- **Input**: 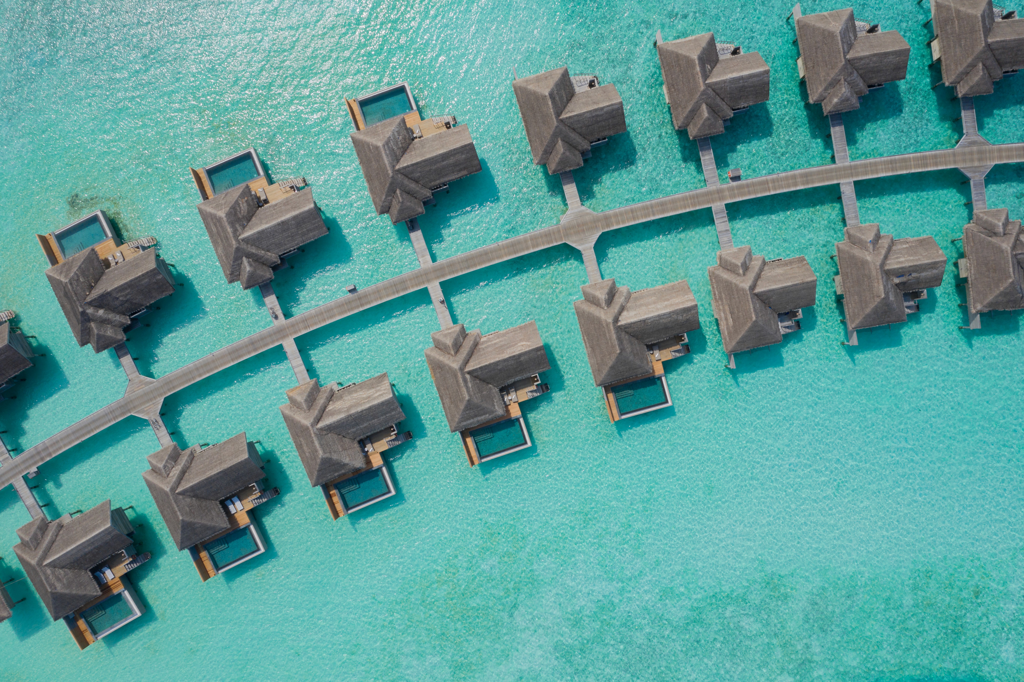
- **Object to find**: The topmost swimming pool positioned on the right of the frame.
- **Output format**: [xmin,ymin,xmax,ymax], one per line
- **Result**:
[611,375,672,419]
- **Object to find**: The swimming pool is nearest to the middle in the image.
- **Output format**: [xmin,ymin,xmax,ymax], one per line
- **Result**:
[470,403,531,462]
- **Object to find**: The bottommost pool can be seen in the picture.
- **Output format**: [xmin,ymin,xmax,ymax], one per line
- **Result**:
[81,573,148,642]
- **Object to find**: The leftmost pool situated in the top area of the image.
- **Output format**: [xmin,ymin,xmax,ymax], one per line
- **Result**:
[50,209,122,260]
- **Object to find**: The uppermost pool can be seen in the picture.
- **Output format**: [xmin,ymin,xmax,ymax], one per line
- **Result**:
[356,81,417,127]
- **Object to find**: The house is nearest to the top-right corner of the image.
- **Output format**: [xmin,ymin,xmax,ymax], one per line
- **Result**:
[919,0,1024,101]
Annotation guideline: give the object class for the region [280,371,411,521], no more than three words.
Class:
house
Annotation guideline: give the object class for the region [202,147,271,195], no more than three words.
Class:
swimming pool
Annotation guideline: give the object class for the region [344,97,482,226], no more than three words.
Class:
house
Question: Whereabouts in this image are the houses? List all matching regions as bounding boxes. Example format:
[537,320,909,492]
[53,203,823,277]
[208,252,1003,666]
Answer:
[512,66,626,176]
[142,429,279,582]
[786,3,911,117]
[653,30,770,141]
[344,97,482,226]
[951,206,1024,329]
[12,496,155,651]
[828,222,948,345]
[707,245,817,367]
[573,276,700,423]
[189,168,330,293]
[919,0,1024,101]
[0,308,45,403]
[424,319,551,467]
[35,233,182,356]
[280,371,411,521]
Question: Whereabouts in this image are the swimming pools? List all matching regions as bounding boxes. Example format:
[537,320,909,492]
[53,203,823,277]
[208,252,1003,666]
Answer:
[202,147,271,195]
[50,209,122,260]
[203,509,268,575]
[356,81,417,127]
[611,375,672,419]
[334,452,397,515]
[81,573,148,642]
[470,403,531,462]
